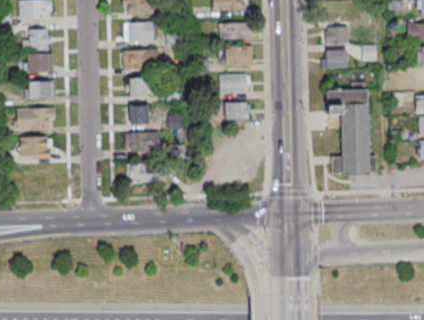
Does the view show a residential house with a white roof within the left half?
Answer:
Yes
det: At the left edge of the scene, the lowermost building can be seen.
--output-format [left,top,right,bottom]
[20,136,53,156]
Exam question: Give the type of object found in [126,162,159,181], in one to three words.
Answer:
house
